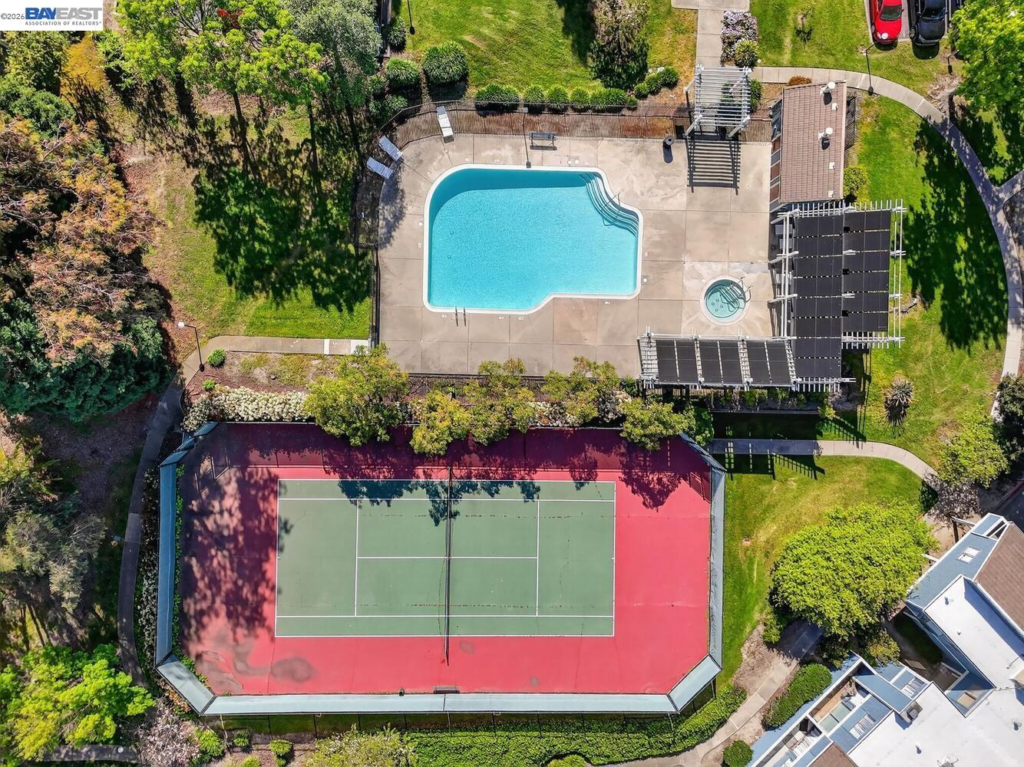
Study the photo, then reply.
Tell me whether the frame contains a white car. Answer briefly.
No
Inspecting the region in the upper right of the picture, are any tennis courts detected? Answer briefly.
No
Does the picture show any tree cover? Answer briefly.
Yes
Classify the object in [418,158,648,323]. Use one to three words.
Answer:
swimming pool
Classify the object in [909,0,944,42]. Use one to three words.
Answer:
car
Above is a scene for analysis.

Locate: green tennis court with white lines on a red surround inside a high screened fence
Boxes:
[171,420,713,696]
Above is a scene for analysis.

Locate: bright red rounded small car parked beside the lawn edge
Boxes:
[869,0,903,40]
